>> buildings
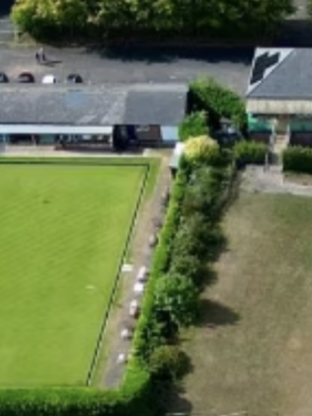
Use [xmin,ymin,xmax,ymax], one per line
[246,41,312,168]
[0,83,198,157]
